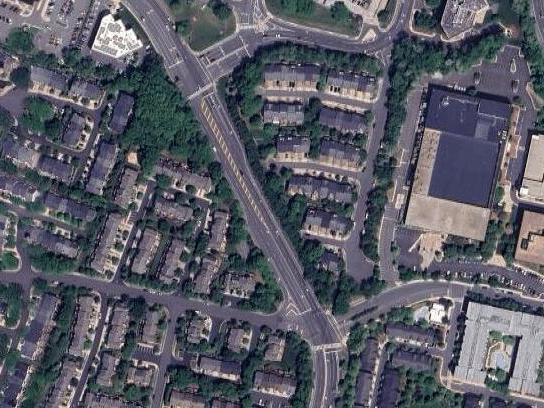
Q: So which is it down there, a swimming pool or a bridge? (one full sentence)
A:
Visible in the photo is a swimming pool.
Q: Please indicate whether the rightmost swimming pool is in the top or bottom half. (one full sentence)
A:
You can find the rightmost swimming pool in the bottom half.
